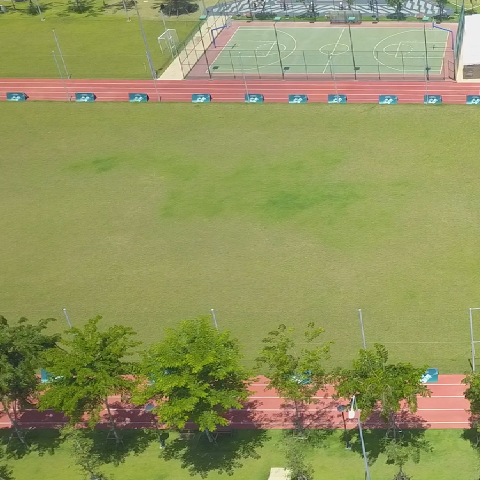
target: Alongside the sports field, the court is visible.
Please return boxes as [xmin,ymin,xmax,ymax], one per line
[184,20,457,80]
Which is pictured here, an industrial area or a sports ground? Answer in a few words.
sports ground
